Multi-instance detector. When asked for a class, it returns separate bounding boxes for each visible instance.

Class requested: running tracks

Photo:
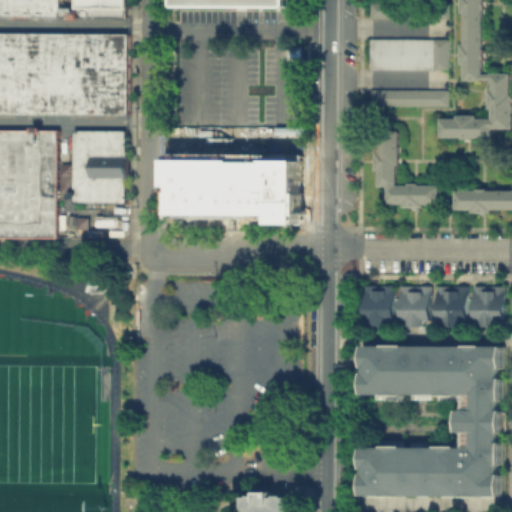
[0,268,120,512]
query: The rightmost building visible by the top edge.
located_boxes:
[438,0,510,139]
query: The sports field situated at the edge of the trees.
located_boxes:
[0,276,111,512]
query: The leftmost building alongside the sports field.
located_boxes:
[0,128,58,239]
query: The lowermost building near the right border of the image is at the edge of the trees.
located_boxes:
[354,344,496,498]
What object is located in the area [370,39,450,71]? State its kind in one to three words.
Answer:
building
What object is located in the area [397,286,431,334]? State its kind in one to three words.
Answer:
house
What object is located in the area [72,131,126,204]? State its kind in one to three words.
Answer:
building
